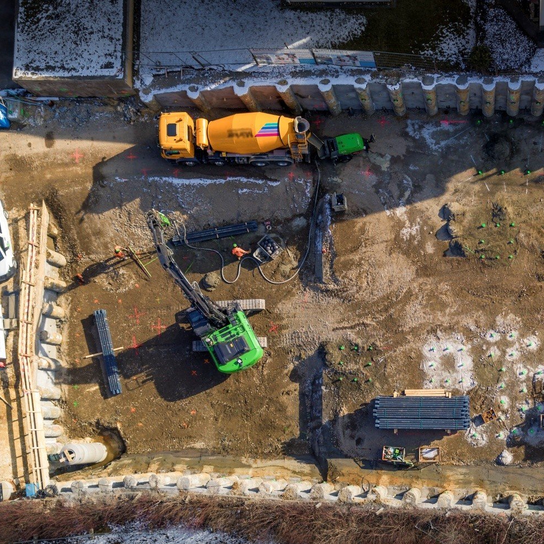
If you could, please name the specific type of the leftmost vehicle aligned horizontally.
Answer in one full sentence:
Specifically, the leftmost vehicle aligned horizontally is a truck.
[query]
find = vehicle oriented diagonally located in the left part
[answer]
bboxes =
[154,216,272,372]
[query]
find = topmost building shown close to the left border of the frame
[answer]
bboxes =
[12,0,156,105]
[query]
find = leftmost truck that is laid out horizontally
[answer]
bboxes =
[164,108,329,172]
